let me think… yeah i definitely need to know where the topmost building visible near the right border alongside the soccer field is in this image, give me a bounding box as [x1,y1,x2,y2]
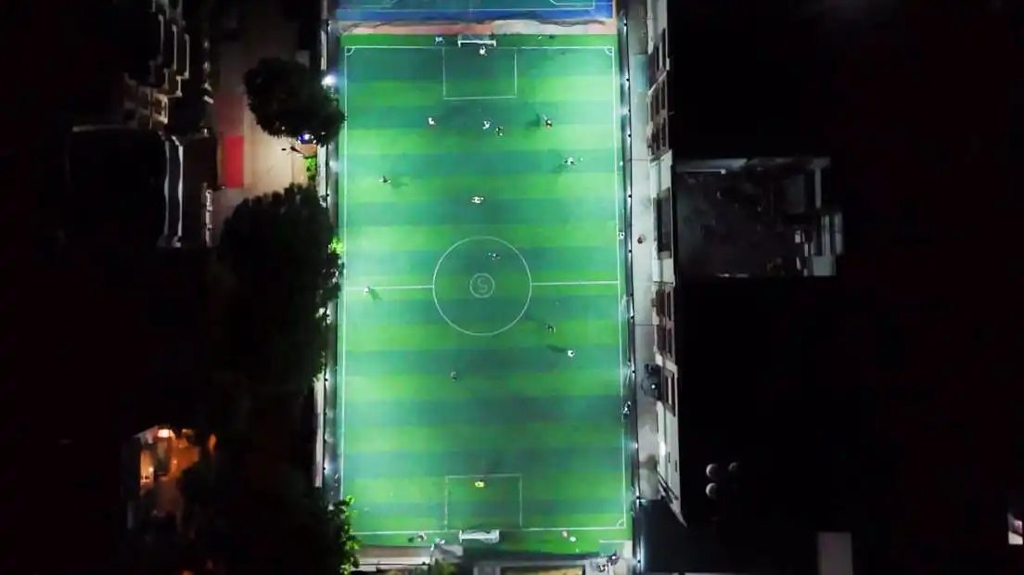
[646,0,1024,527]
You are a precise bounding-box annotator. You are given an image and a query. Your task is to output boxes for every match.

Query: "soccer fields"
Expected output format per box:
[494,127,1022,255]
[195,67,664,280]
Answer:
[338,34,631,549]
